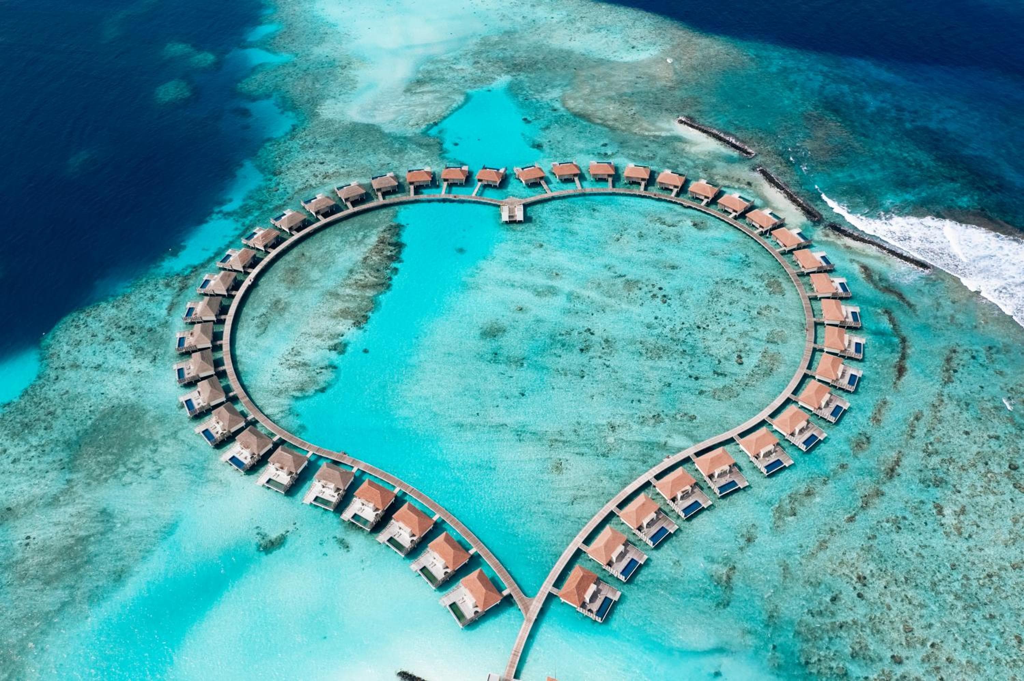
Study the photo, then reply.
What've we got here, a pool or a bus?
pool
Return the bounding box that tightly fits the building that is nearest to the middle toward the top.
[501,205,523,229]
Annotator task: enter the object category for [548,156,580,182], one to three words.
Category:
house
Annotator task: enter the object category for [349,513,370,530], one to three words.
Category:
swimming pool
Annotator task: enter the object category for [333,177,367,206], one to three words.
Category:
house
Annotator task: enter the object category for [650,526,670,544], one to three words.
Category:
swimming pool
